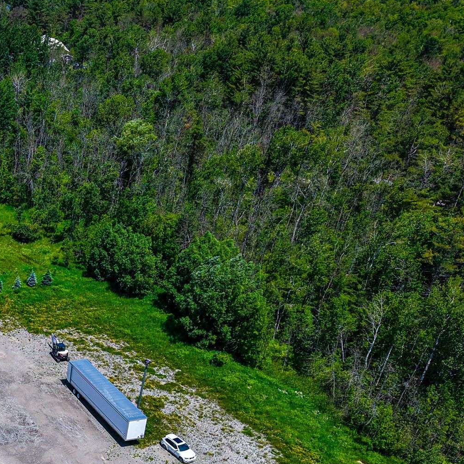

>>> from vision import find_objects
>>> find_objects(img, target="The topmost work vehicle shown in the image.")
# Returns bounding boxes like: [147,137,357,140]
[49,336,71,362]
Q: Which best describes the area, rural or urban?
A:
rural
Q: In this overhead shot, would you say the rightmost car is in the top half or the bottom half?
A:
bottom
